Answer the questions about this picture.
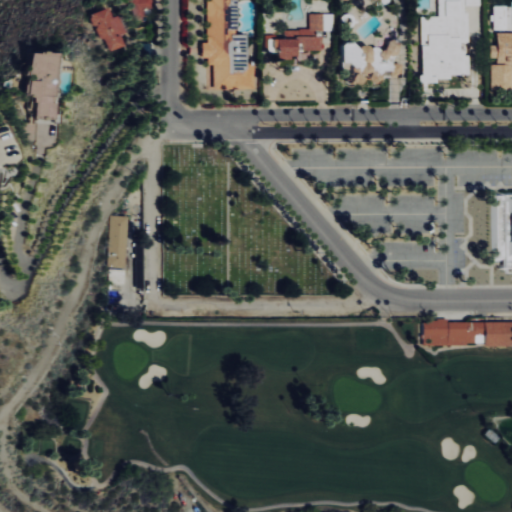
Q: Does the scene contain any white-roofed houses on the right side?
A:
Yes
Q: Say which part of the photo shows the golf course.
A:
bottom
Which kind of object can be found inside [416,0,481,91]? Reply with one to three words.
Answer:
house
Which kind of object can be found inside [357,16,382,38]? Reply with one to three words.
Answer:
swimming pool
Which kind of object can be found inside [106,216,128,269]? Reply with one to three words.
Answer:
shed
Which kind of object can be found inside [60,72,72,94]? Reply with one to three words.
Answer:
swimming pool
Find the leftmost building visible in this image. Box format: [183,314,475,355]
[26,53,62,120]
